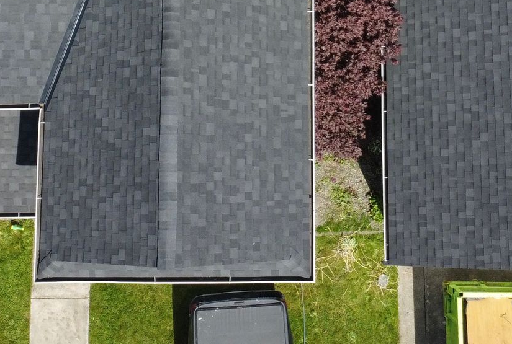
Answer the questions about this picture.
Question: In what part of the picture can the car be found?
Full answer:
You can find the car in the bottom area of the picture.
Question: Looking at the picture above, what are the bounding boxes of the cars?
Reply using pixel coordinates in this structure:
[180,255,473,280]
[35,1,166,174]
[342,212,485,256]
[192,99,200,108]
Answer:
[191,284,293,344]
